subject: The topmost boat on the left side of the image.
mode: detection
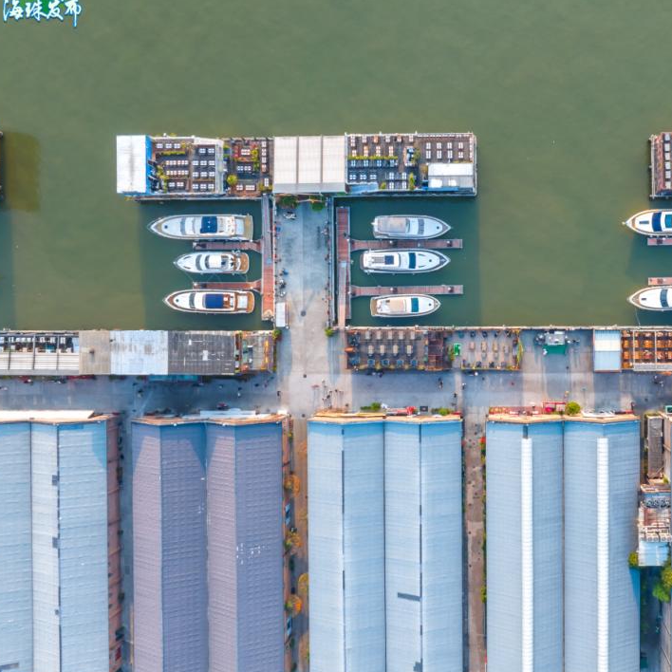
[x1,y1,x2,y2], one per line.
[151,214,257,241]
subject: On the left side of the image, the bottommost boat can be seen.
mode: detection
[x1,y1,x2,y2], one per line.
[164,288,259,314]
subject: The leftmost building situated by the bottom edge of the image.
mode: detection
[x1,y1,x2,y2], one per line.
[0,418,123,672]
